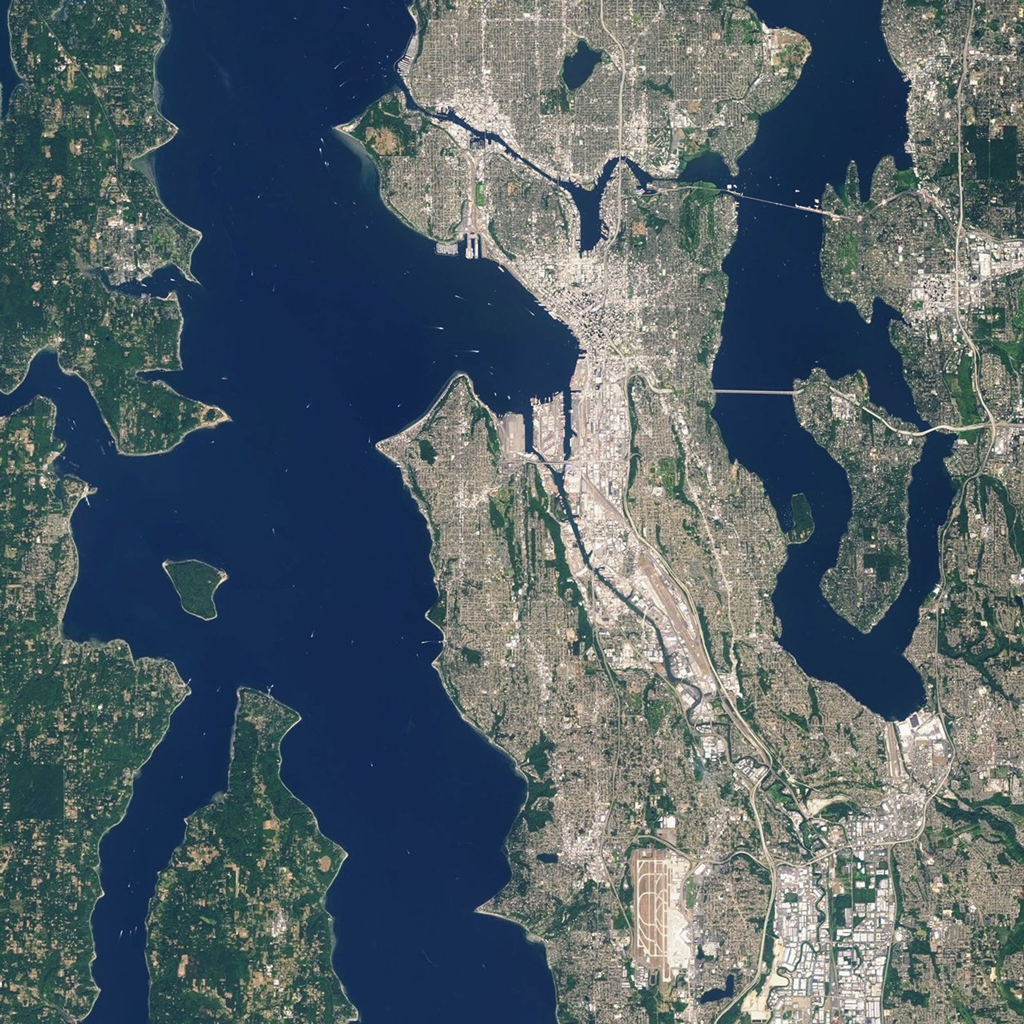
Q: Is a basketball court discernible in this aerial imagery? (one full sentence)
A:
No, the photo shows no basketball court.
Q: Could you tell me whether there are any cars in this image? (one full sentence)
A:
No, the photo shows no car.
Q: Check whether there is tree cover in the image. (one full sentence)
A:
Yes, the picture does contain tree cover.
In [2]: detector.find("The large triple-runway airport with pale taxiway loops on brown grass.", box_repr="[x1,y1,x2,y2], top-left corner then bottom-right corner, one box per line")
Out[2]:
[628,851,693,993]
